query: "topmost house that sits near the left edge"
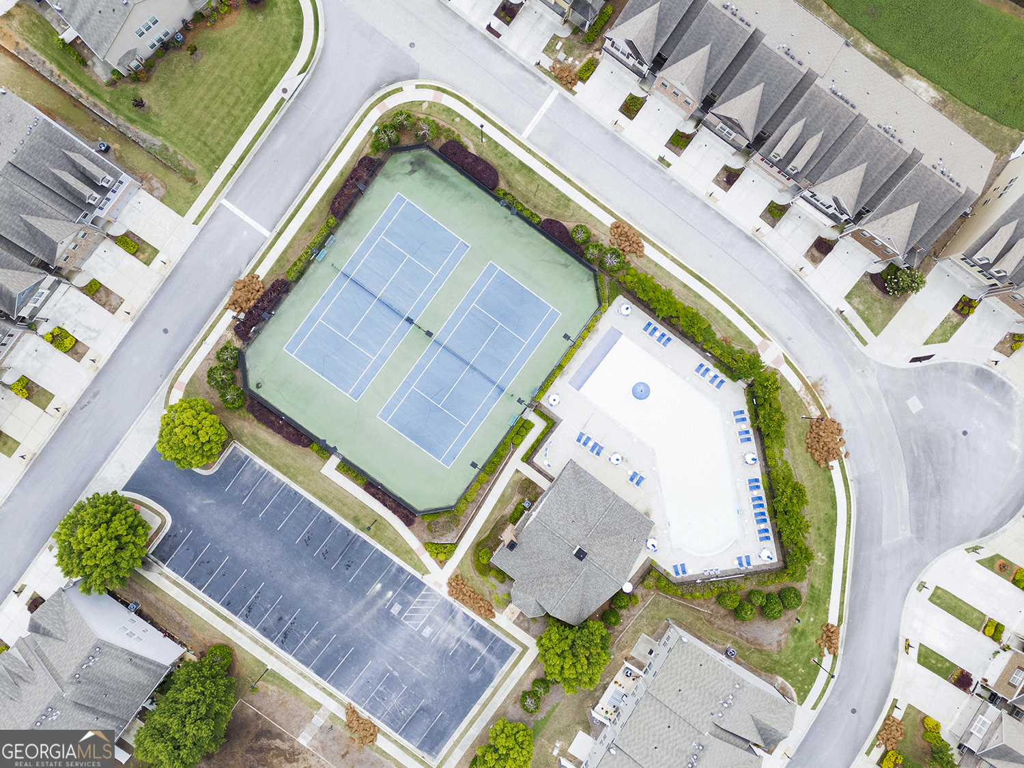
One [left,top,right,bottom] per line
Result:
[47,0,217,76]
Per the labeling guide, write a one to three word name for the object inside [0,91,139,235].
house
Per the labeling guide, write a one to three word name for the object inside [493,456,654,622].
building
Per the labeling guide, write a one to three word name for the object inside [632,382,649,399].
fountain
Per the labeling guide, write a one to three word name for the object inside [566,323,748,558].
swimming pool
